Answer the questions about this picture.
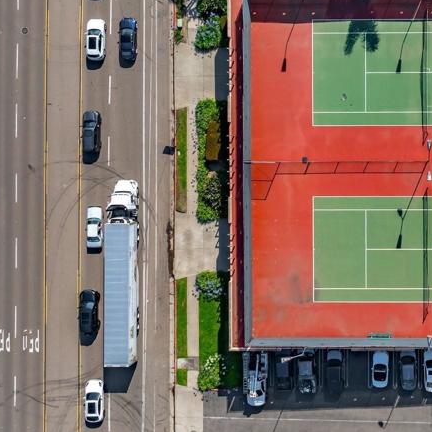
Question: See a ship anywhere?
No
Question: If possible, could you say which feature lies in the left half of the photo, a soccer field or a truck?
truck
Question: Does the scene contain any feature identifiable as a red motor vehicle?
No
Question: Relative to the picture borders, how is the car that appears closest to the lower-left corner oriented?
vertically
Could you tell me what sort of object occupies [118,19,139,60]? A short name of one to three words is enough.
car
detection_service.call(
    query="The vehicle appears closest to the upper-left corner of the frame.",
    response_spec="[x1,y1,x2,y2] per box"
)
[86,20,107,61]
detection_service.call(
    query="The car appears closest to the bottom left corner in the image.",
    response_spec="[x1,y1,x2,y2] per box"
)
[84,378,106,423]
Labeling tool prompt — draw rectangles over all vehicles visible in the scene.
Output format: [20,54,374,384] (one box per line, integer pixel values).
[105,177,143,367]
[423,350,432,392]
[81,112,104,154]
[86,20,107,61]
[399,350,416,390]
[84,378,106,423]
[277,349,293,389]
[85,207,105,248]
[245,353,266,404]
[118,19,139,60]
[372,349,389,388]
[79,290,102,335]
